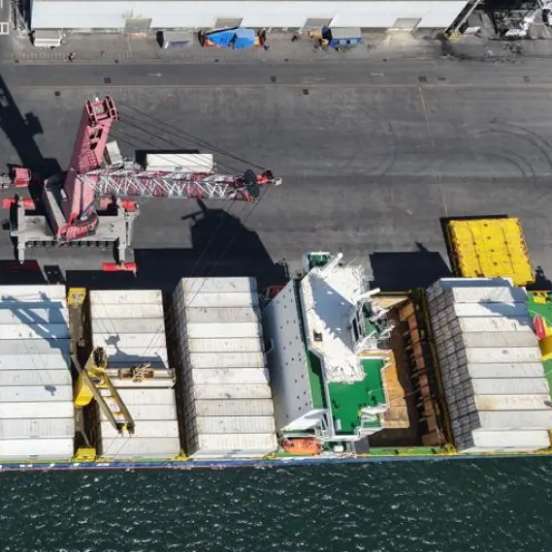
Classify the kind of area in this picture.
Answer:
port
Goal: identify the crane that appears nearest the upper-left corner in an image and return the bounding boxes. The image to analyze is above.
[10,97,286,377]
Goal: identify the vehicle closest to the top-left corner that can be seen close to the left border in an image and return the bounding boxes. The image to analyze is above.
[27,27,60,47]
